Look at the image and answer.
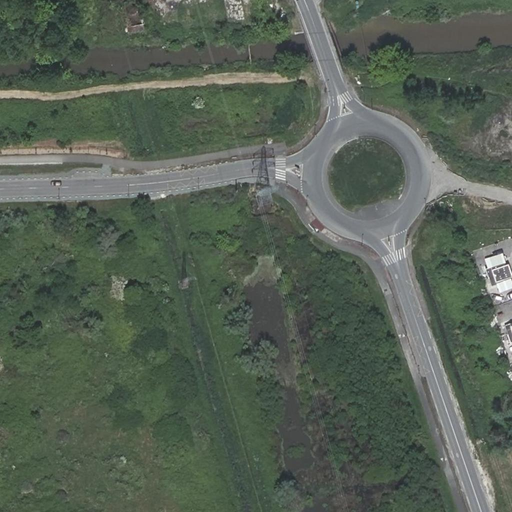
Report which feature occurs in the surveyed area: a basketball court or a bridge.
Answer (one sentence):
This aerial view contains a bridge.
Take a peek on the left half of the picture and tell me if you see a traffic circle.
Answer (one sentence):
No, no traffic circle is visible on the left half of the picture.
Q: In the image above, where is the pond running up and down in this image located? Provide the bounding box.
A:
[246,281,313,472]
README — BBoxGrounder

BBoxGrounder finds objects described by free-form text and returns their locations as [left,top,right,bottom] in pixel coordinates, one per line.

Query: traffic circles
[302,110,430,244]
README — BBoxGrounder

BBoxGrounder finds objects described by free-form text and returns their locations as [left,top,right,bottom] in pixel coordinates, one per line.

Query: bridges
[302,20,338,66]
